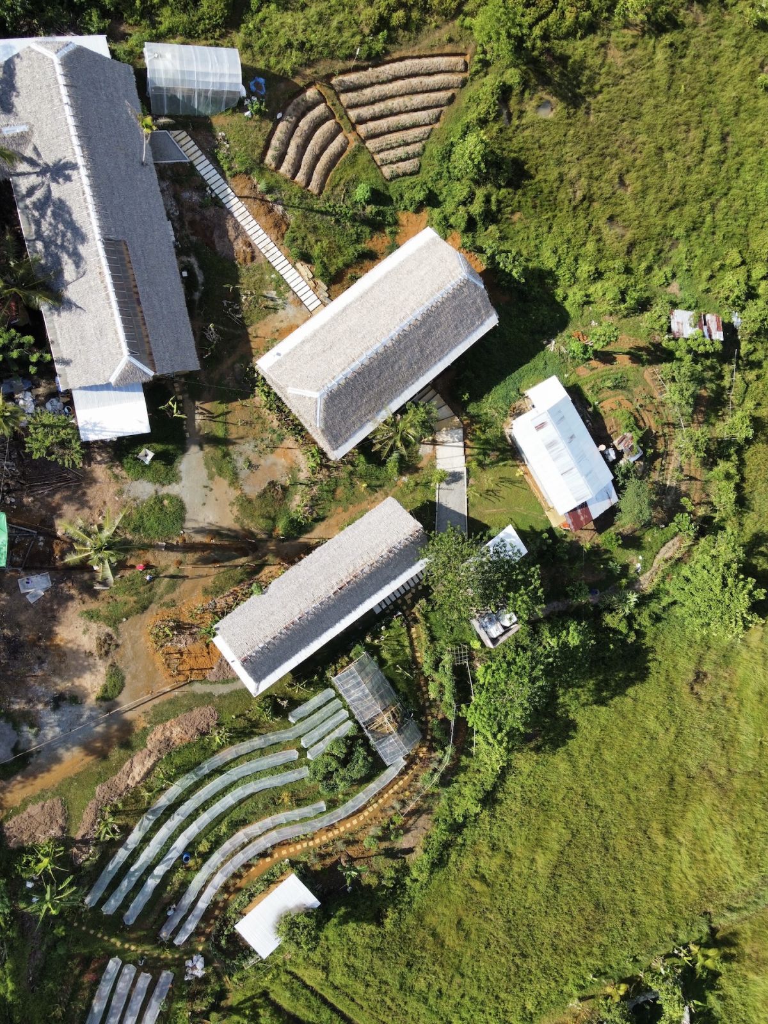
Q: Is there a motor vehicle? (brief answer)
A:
No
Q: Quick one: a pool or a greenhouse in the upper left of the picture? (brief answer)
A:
greenhouse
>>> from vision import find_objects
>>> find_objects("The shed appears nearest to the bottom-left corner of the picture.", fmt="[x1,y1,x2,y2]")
[236,859,321,969]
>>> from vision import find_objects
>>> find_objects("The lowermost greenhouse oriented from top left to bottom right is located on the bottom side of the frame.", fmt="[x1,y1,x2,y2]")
[332,647,422,766]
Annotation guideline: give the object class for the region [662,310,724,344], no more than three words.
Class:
shed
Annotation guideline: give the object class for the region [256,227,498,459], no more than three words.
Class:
house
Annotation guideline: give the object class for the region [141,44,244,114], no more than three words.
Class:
greenhouse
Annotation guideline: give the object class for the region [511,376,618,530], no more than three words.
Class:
house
